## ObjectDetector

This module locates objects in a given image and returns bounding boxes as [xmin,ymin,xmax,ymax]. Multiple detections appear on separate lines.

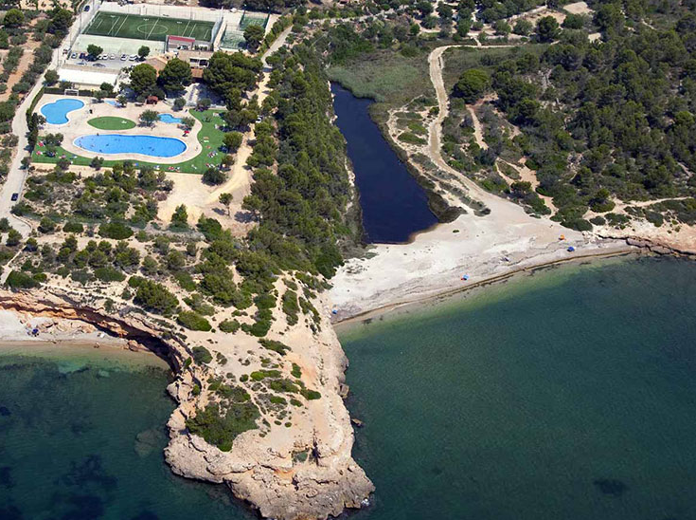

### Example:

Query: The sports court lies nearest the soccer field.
[220,24,248,49]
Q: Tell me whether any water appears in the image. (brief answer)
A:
Yes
